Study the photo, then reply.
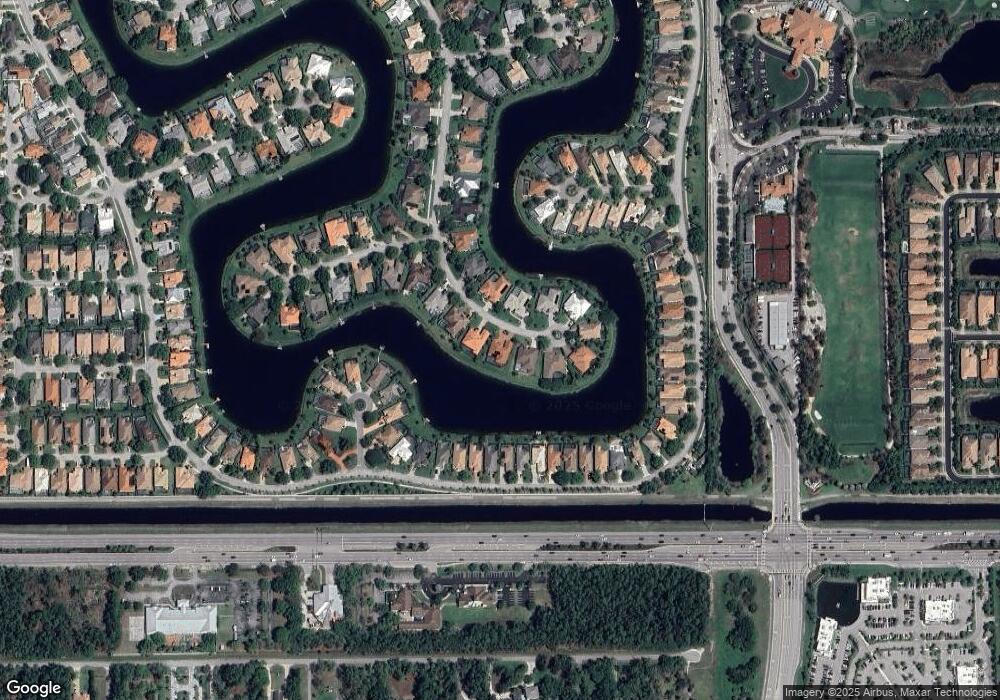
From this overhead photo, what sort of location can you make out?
residential area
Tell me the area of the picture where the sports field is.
right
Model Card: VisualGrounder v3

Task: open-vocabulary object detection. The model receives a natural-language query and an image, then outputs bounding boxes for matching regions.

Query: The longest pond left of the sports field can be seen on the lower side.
[719,376,754,481]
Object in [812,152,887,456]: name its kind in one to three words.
sports field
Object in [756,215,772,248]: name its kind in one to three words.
tennis court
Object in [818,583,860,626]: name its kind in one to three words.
pond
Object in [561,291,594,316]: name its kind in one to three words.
house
